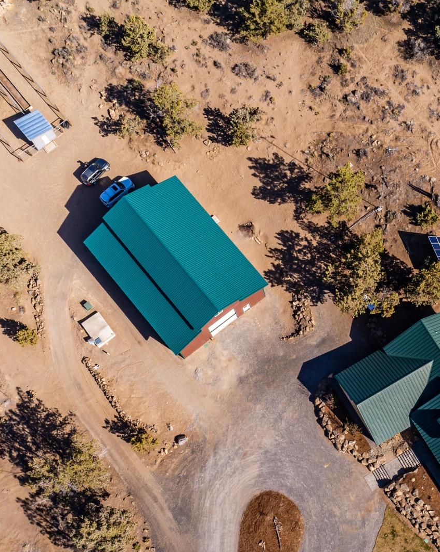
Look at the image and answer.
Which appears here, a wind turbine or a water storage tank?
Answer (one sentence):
I can see a wind turbine in this picture.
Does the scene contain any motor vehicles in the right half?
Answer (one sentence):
No, in the right half there is no motor vehicle.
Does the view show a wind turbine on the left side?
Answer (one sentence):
No, no wind turbine is visible on the left side.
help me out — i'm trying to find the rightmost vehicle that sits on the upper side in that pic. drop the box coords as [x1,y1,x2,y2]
[100,175,135,206]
